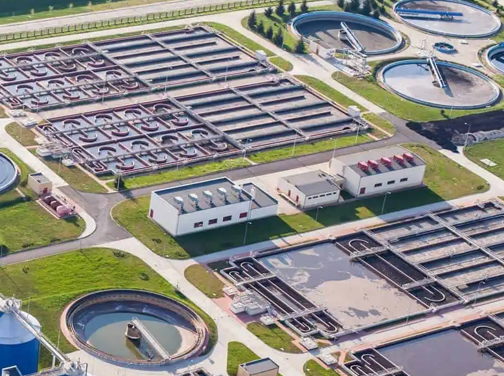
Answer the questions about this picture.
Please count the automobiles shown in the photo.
0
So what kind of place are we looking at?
industrial area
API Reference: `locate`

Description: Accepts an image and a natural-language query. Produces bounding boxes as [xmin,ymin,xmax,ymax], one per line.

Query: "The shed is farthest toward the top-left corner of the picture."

[28,172,52,195]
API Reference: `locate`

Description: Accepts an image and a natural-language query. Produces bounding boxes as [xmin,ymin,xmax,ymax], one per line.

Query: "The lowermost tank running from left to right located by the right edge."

[380,55,502,111]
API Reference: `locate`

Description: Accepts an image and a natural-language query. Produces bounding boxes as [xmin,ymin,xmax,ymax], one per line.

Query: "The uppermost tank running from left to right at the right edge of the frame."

[392,0,502,39]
